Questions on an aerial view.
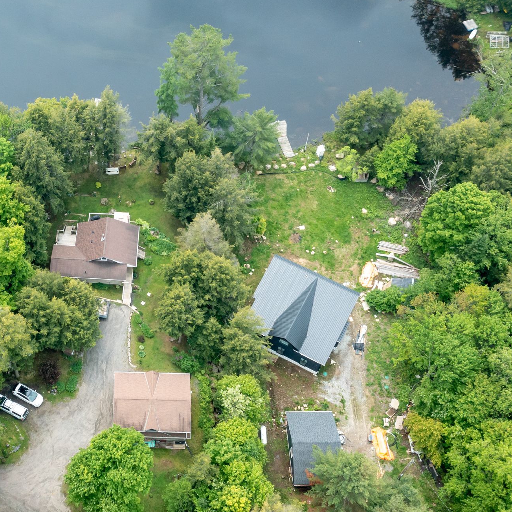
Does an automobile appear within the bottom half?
Yes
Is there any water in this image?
Yes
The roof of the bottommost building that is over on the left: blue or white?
white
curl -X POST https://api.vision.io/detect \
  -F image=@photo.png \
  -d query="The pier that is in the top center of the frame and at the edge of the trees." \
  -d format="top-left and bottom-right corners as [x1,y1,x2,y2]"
[275,120,295,159]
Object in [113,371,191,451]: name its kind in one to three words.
building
